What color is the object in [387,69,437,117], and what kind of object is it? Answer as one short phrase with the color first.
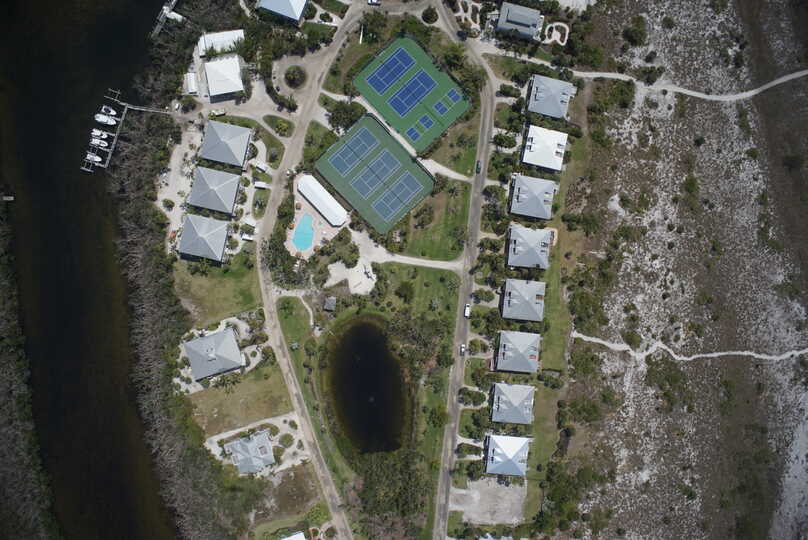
blue tennis court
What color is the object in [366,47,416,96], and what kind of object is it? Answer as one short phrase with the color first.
blue tennis court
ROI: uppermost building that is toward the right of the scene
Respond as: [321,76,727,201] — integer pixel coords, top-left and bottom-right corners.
[496,2,541,40]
